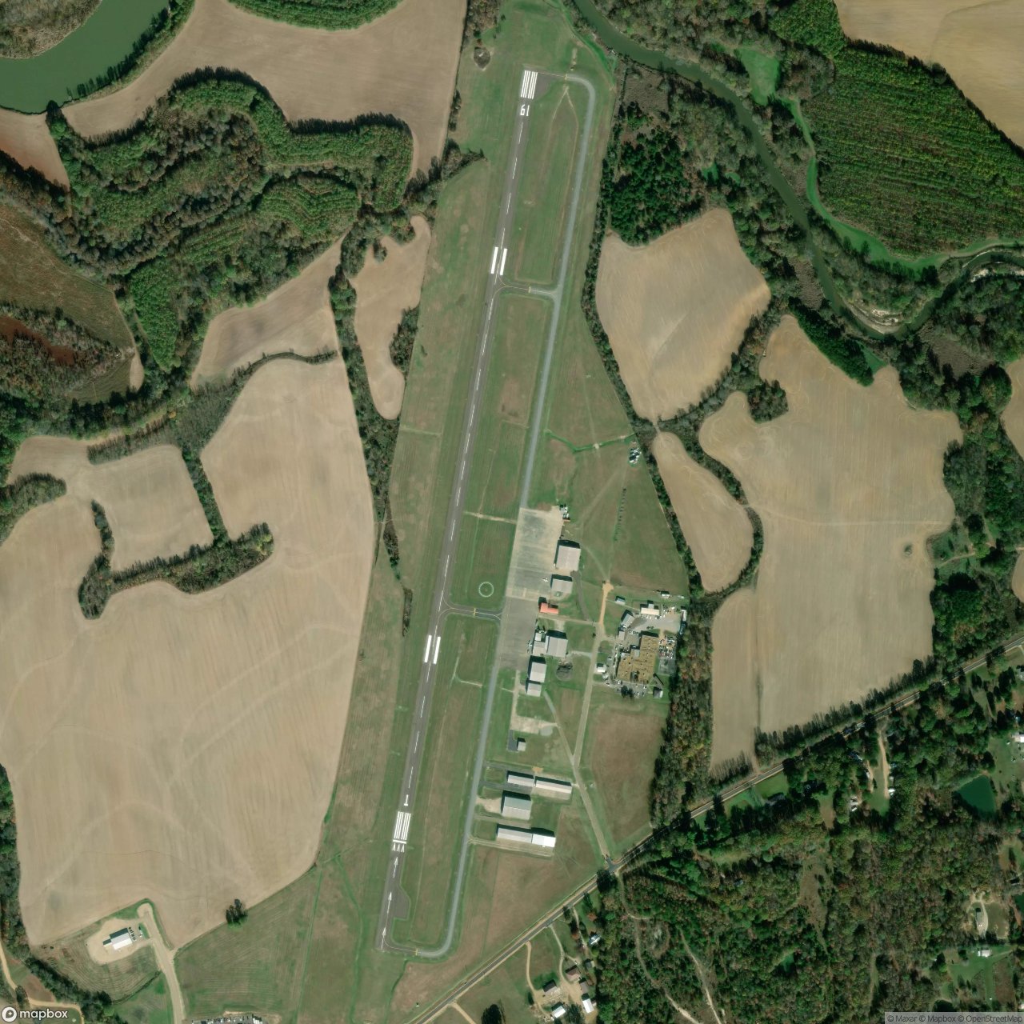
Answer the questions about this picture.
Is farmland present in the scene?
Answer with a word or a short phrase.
Yes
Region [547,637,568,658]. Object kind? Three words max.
hangar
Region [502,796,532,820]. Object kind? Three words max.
hangar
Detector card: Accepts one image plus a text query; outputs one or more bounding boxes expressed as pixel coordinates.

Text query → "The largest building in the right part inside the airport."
[617,635,659,683]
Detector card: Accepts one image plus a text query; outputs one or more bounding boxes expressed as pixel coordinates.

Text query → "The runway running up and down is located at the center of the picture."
[375,70,537,950]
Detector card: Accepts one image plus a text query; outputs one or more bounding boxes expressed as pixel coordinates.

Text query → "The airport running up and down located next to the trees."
[172,0,690,1024]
